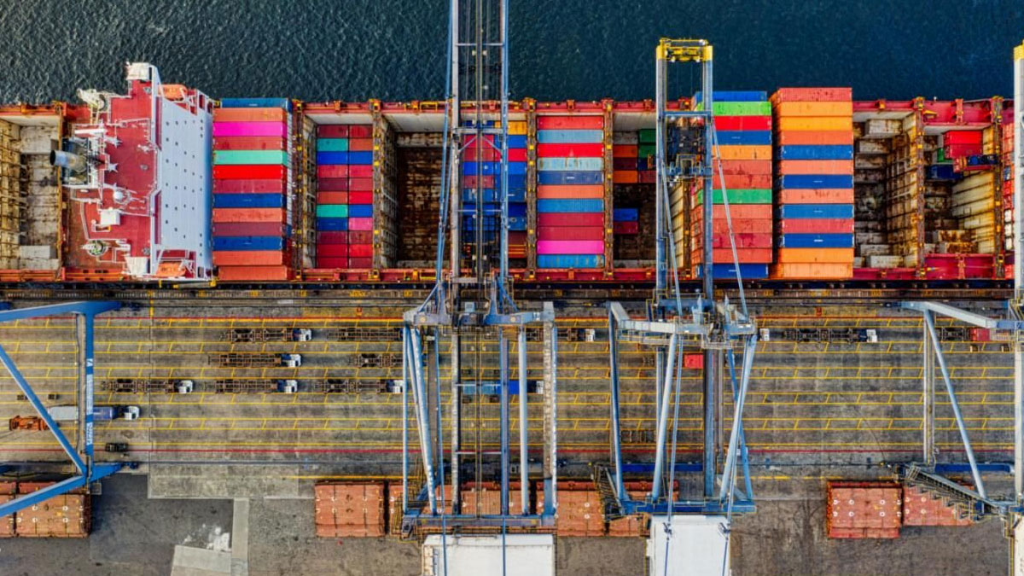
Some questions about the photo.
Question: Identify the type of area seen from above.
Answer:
port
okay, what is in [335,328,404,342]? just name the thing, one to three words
vehicle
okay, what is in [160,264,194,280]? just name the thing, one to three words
boat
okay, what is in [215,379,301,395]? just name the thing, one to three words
vehicle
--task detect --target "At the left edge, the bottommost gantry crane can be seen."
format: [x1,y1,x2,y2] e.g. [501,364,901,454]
[0,302,145,520]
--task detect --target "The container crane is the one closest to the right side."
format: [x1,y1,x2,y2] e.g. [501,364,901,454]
[882,41,1024,576]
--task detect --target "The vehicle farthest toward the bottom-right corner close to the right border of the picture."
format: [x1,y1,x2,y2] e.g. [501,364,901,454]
[937,328,1010,342]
